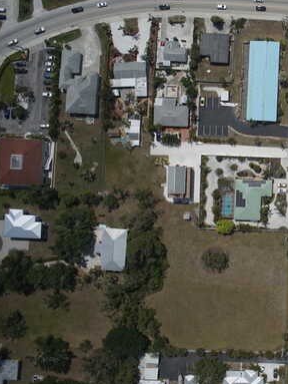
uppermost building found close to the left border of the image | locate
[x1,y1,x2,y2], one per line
[0,139,55,185]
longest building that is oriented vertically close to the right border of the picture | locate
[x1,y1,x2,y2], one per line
[246,39,285,122]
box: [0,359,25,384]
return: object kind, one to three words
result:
house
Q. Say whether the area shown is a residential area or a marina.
residential area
